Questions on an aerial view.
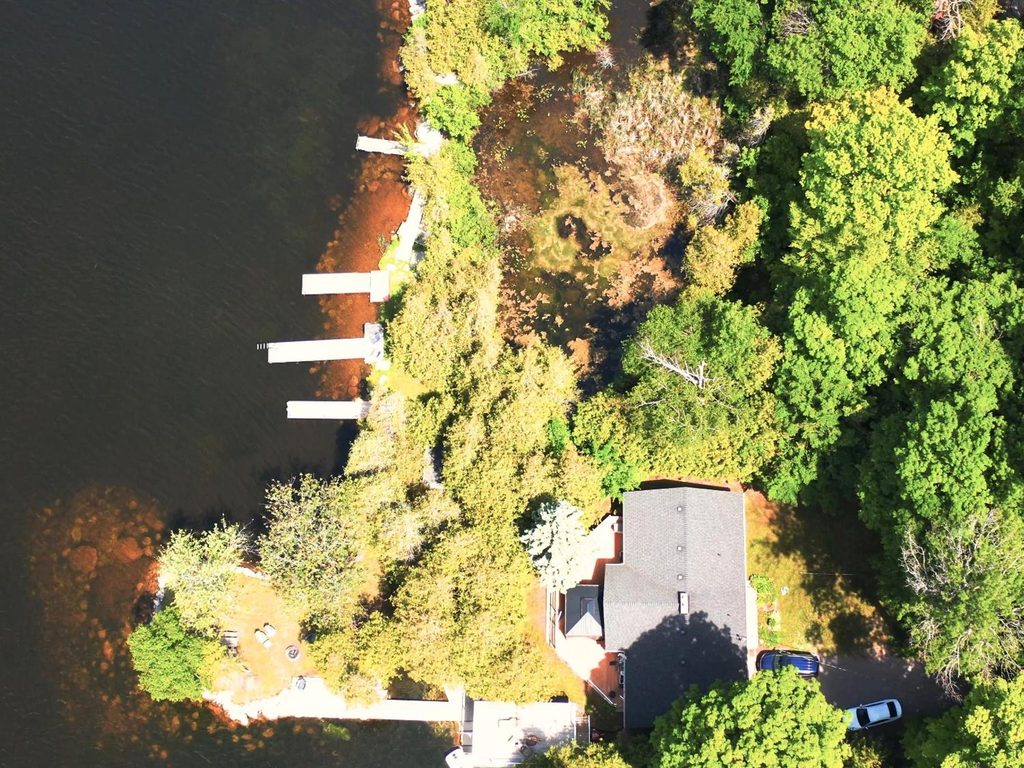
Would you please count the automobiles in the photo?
2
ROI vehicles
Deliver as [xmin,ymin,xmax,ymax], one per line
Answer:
[755,648,821,678]
[840,695,907,734]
